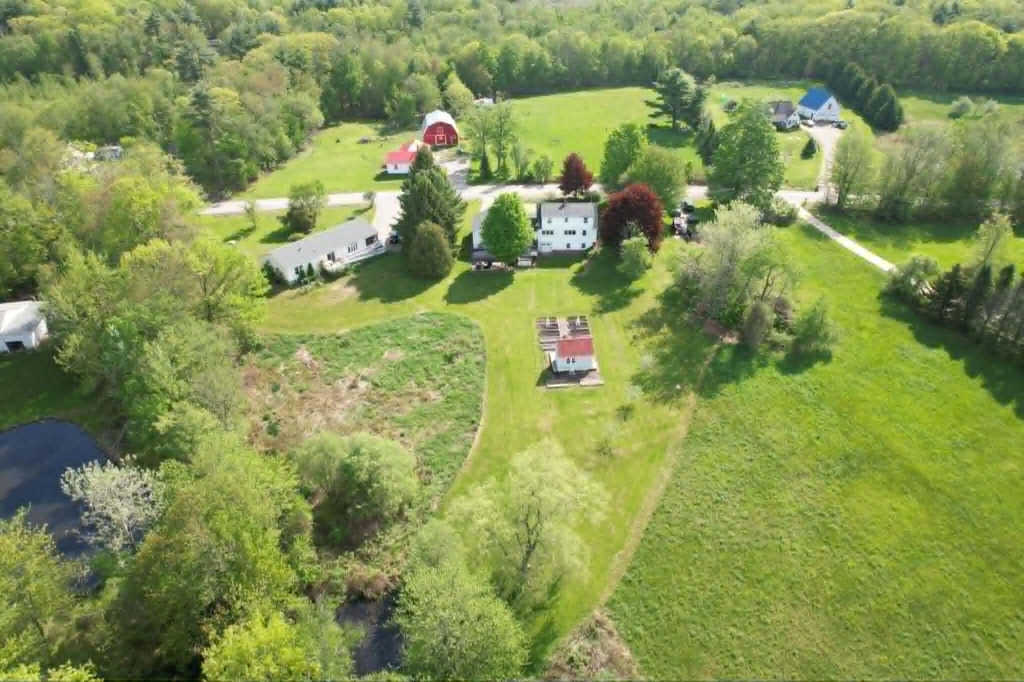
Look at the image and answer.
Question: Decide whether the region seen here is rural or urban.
rural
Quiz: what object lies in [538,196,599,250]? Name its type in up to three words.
house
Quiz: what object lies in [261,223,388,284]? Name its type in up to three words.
house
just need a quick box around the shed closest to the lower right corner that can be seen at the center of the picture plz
[553,334,599,373]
